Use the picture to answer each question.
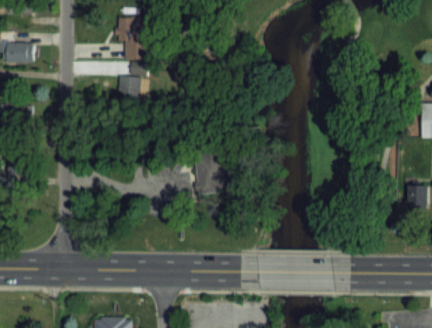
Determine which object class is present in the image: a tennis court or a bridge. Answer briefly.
bridge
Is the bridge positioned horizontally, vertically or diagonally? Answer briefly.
horizontally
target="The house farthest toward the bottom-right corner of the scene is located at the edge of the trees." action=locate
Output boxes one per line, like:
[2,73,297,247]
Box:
[408,186,431,208]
